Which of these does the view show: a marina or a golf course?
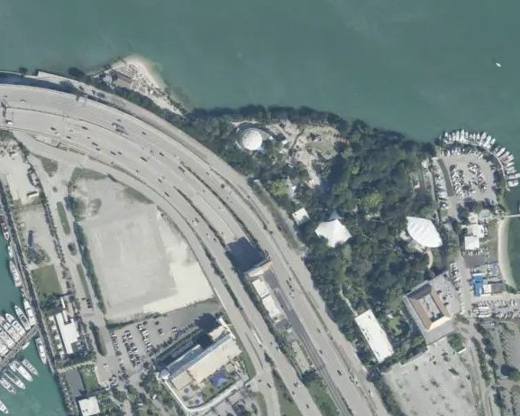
marina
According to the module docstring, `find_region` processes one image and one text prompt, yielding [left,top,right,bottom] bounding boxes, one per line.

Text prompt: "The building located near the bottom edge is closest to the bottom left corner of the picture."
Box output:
[77,396,100,416]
